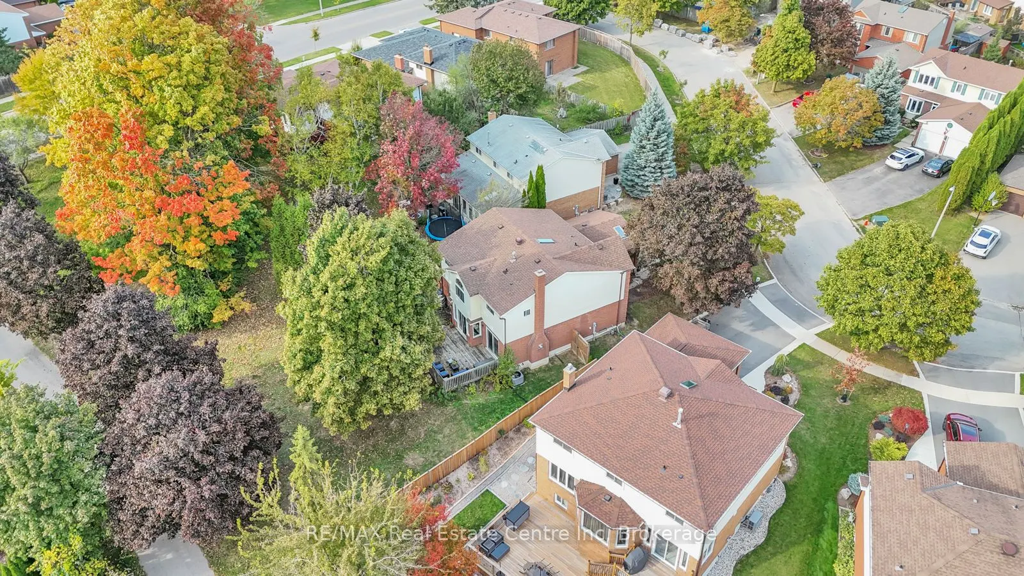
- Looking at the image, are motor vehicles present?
Yes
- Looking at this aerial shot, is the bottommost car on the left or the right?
right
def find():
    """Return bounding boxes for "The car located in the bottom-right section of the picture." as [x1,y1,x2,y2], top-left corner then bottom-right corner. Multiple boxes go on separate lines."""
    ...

[946,412,988,440]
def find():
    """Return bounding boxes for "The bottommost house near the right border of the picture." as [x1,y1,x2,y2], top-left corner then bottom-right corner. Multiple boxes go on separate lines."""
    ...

[854,436,1024,576]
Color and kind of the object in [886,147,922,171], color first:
white car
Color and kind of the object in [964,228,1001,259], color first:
white car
